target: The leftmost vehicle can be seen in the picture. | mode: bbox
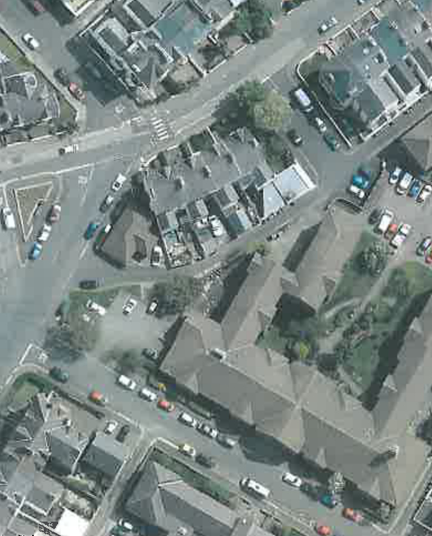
[1,206,15,231]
